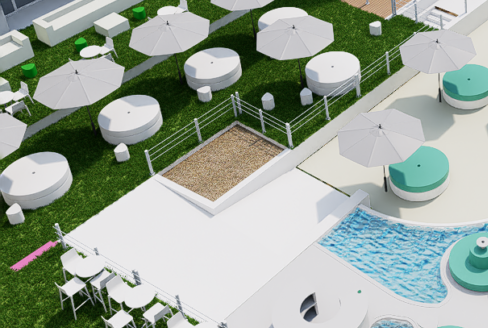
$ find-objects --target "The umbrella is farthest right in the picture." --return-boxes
[399,32,477,103]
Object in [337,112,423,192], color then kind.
white umbrella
